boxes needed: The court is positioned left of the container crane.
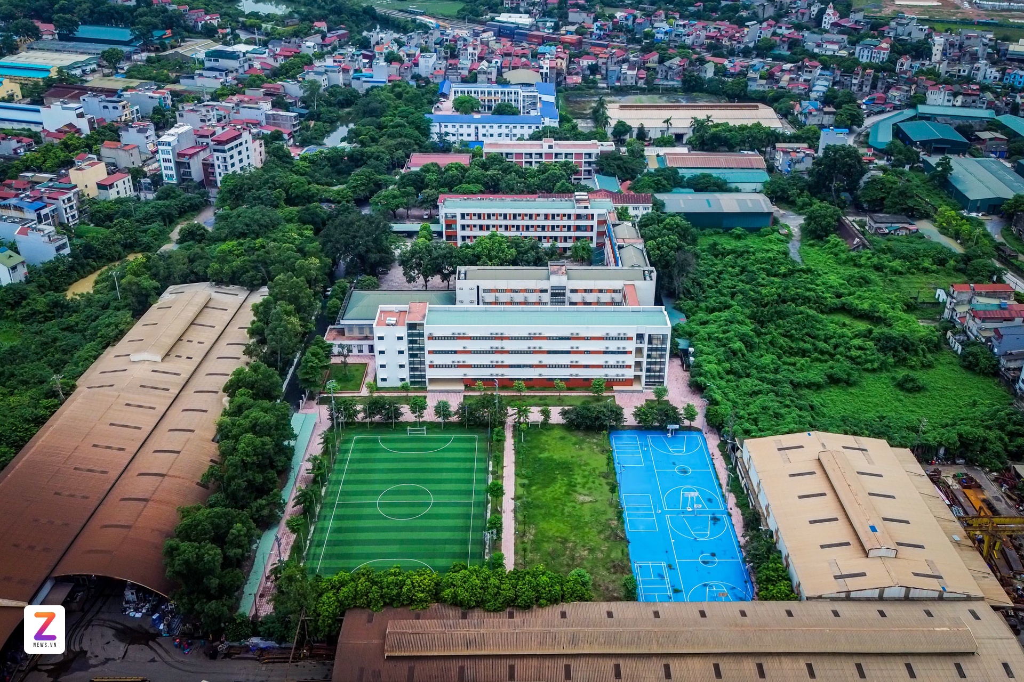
[611,431,761,608]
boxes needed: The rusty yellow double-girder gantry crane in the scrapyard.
[964,514,1024,547]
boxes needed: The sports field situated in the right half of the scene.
[567,91,728,118]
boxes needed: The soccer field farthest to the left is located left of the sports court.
[297,428,489,597]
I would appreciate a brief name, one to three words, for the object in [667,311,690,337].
shed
